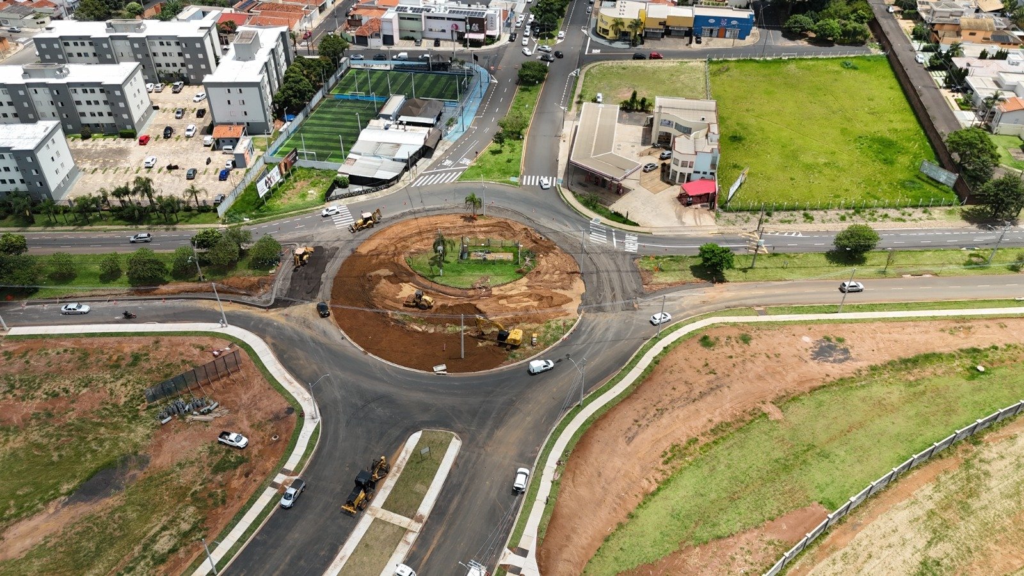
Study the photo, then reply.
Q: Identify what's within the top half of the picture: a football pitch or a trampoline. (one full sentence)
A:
You can see a football pitch within the top half of the picture.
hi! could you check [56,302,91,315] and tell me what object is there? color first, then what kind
white vehicle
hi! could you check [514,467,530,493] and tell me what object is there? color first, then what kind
white car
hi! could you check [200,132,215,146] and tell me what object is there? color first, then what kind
white vehicle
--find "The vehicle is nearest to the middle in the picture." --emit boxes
[473,318,521,349]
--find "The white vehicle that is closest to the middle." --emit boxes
[528,358,554,374]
